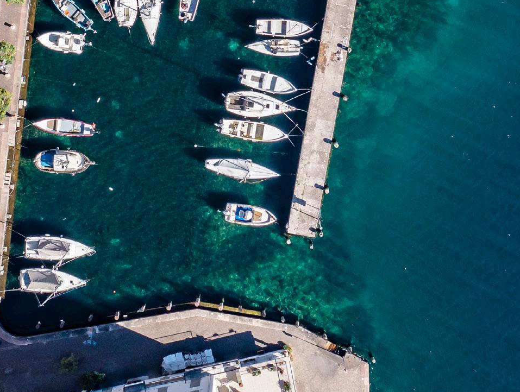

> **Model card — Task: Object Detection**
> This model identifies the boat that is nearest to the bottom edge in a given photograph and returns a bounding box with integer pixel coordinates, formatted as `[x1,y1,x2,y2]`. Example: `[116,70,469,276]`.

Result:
[4,266,86,302]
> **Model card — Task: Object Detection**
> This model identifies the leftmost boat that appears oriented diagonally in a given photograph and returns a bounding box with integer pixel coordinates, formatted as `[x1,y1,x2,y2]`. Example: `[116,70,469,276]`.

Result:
[53,0,95,31]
